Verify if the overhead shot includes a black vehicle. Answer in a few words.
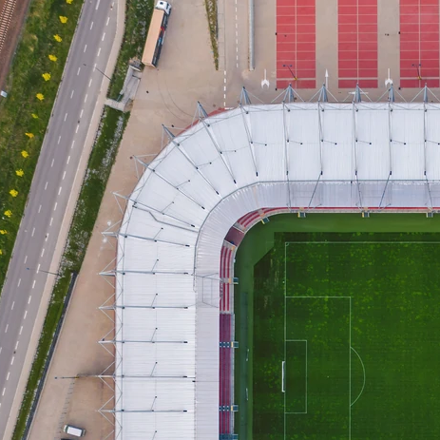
No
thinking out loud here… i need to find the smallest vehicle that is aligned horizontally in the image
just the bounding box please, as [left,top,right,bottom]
[65,424,87,437]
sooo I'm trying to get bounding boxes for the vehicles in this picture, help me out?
[65,424,87,437]
[140,1,169,65]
